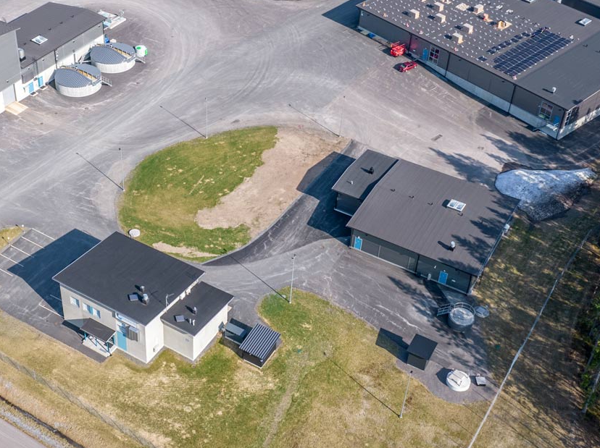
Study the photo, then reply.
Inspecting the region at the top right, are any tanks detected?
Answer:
No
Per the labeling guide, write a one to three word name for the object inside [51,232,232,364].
building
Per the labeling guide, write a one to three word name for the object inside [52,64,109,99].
storage tank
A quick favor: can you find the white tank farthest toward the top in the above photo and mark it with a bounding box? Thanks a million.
[89,43,145,75]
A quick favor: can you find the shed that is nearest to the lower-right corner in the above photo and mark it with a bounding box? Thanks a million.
[406,335,437,372]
